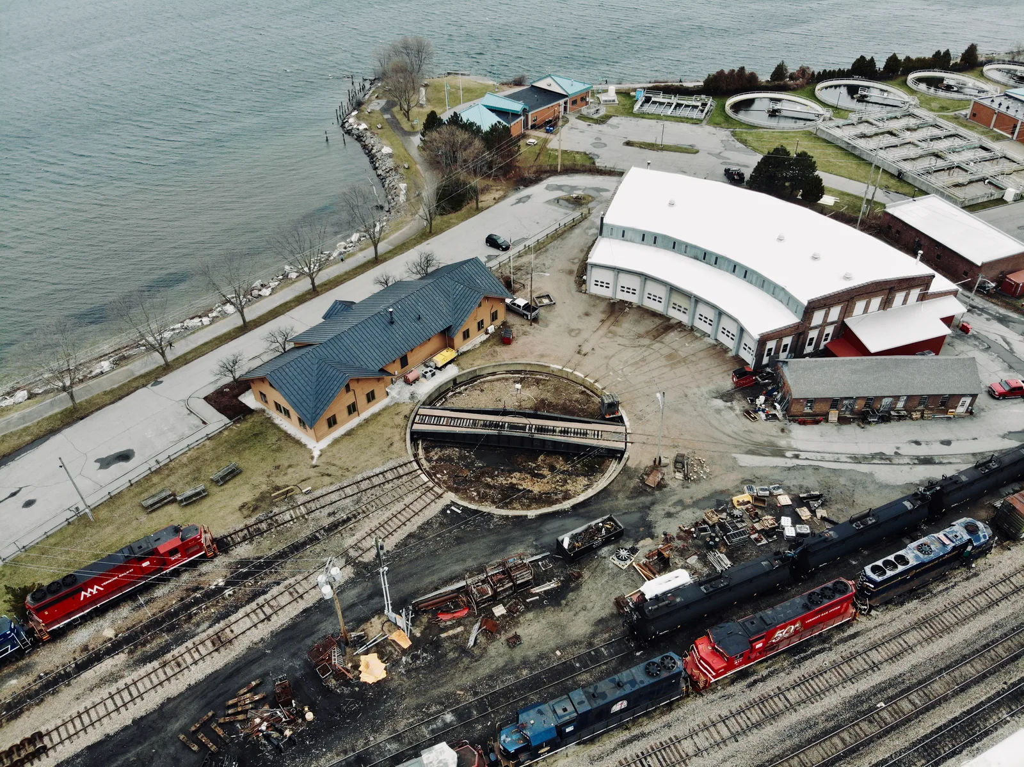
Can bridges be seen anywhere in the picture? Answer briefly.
Yes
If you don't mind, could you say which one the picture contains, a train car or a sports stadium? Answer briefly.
train car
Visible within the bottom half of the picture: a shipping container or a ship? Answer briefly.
shipping container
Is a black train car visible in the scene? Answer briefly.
Yes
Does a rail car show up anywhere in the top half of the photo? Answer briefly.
No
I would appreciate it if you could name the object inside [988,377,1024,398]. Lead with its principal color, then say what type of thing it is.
red truck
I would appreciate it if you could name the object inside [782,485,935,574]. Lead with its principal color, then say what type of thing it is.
black rail car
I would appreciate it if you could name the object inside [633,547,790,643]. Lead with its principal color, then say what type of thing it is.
black rail car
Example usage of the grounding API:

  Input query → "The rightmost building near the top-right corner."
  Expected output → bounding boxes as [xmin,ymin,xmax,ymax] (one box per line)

[969,84,1024,140]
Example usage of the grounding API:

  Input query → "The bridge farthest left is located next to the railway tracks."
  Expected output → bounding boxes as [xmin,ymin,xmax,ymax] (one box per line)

[407,388,626,459]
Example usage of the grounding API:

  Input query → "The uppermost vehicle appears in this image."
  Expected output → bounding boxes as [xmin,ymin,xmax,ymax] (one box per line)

[723,167,748,183]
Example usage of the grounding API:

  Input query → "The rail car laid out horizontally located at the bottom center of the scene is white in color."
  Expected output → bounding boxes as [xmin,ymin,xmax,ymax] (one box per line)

[403,740,497,767]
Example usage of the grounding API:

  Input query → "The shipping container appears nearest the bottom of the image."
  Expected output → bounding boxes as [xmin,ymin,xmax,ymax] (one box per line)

[552,513,624,563]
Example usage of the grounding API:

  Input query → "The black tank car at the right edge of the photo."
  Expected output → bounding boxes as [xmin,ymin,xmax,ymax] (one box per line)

[925,440,1024,513]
